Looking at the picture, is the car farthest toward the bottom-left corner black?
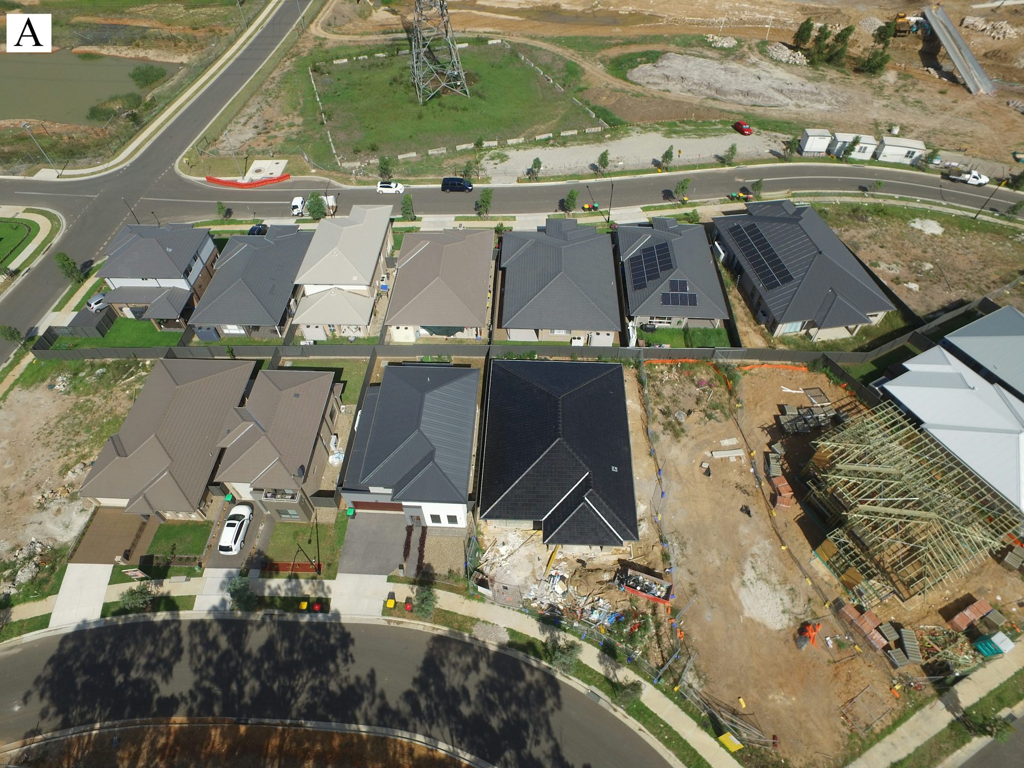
No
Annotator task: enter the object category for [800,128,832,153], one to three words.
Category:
building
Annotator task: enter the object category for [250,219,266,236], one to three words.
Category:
car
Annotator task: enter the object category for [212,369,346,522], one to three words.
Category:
house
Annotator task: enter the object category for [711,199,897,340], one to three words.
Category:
house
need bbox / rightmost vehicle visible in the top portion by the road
[954,171,991,189]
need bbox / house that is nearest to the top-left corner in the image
[94,223,219,320]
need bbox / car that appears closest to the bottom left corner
[214,513,250,559]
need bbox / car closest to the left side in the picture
[79,293,111,314]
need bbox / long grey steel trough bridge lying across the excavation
[924,0,1002,95]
